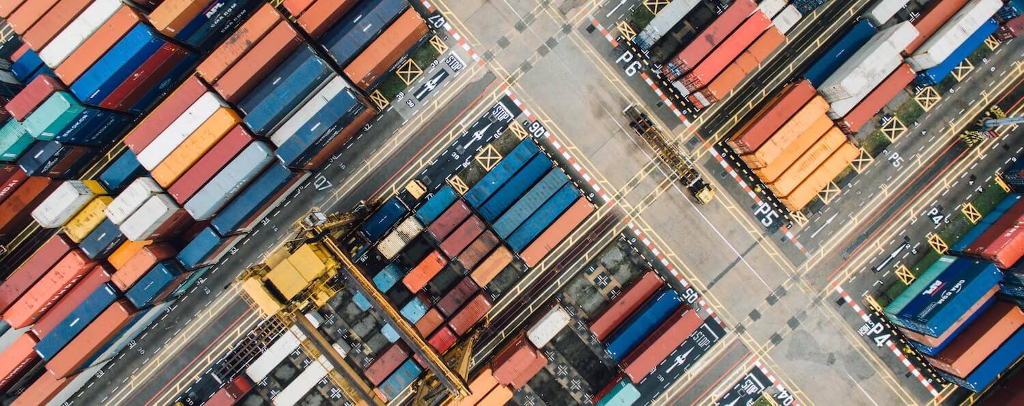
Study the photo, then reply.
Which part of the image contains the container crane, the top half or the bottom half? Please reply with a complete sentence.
You can find the container crane in the bottom half.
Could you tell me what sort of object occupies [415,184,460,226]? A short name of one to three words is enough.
shipping container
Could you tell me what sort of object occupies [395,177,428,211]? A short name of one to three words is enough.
truck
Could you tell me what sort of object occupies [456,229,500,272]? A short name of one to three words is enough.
shipping container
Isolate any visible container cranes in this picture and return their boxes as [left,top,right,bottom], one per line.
[236,195,492,406]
